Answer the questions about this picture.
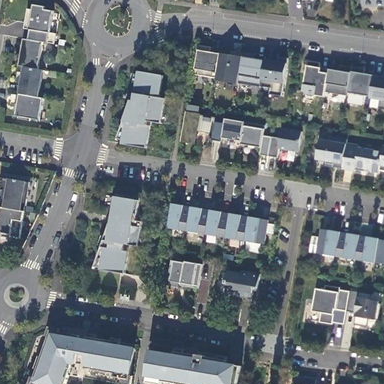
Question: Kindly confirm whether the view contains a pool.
No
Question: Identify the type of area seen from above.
residential area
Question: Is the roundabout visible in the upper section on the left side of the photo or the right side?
left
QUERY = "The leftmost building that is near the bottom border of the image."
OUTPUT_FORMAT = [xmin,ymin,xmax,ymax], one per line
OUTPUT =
[24,326,138,384]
